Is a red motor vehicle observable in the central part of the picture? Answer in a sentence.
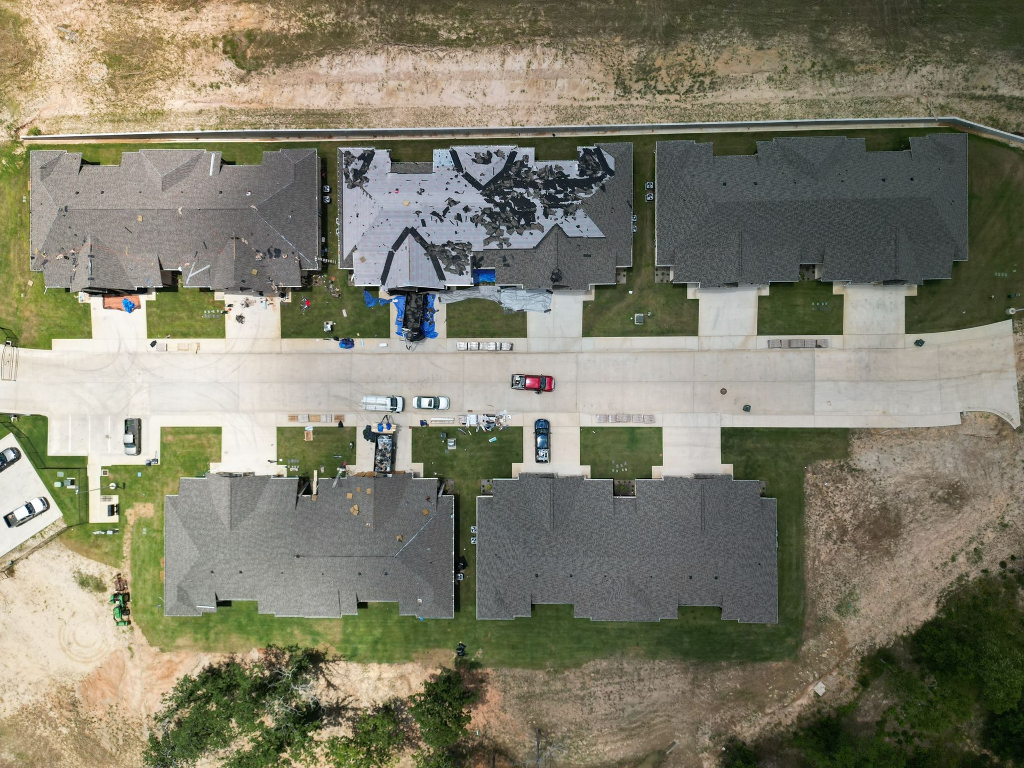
Yes, in the central part of the picture there is a red motor vehicle.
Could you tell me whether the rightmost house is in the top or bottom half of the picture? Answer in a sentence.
The rightmost house sits in the top half of the picture.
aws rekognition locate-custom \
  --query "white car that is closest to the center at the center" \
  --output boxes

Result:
[413,395,450,411]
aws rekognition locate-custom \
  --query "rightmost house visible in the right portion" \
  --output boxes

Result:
[655,133,969,288]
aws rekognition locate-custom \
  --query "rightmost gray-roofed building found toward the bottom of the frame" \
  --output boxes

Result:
[476,475,778,623]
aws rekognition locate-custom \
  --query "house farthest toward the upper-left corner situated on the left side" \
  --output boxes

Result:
[30,149,320,292]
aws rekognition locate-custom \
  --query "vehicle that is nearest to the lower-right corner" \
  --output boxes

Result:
[534,418,550,463]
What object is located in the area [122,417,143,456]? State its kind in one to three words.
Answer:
truck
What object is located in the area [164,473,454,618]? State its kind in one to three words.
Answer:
house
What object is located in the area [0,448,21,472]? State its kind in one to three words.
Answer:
car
